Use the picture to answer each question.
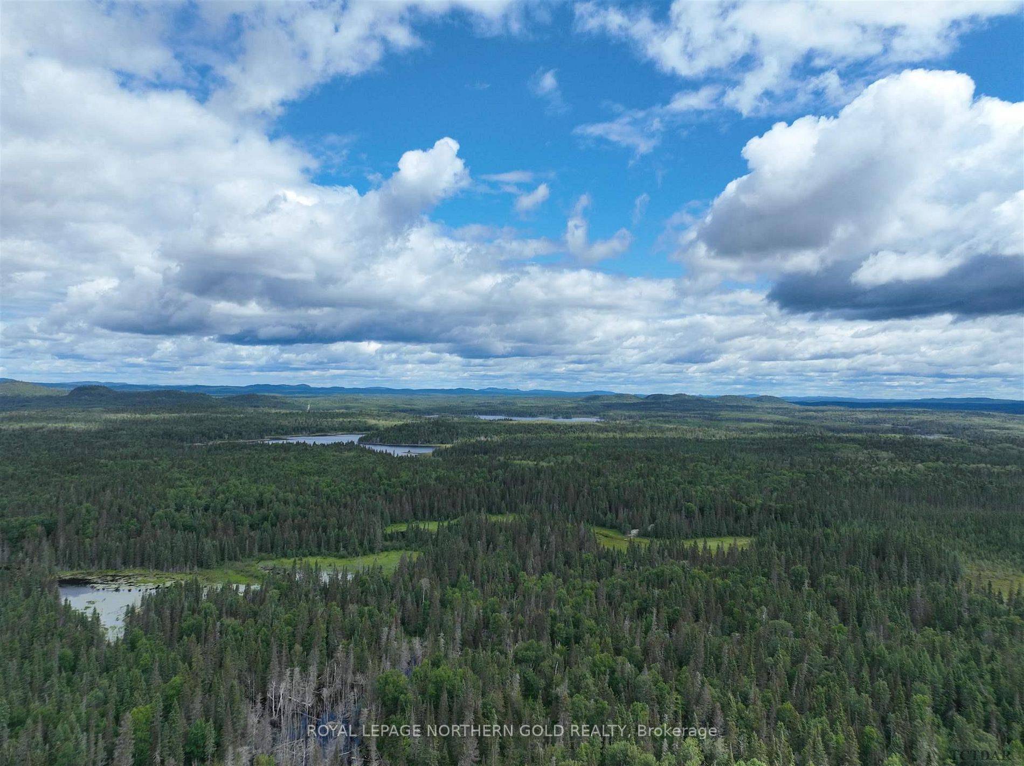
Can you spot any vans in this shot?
No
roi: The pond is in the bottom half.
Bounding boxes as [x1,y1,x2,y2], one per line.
[56,580,170,665]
